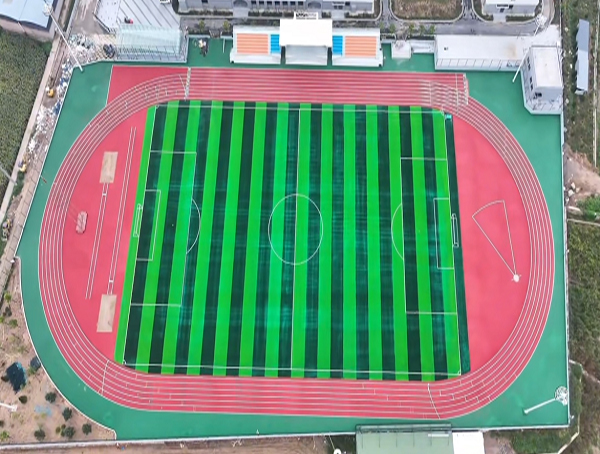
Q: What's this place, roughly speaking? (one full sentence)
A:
It's a sports ground.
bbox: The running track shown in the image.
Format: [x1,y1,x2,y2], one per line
[39,64,554,419]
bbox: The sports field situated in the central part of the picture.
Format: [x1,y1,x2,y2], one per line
[114,99,470,383]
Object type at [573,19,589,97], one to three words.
shed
